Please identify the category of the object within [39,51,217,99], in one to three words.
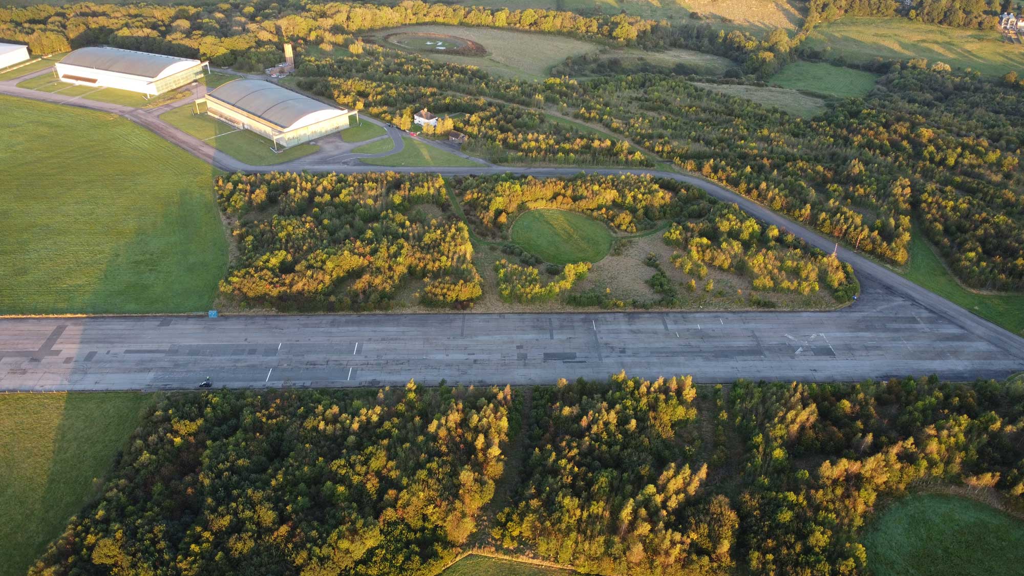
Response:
hangar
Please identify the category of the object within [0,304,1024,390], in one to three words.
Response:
runway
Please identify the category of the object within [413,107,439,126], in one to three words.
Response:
house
